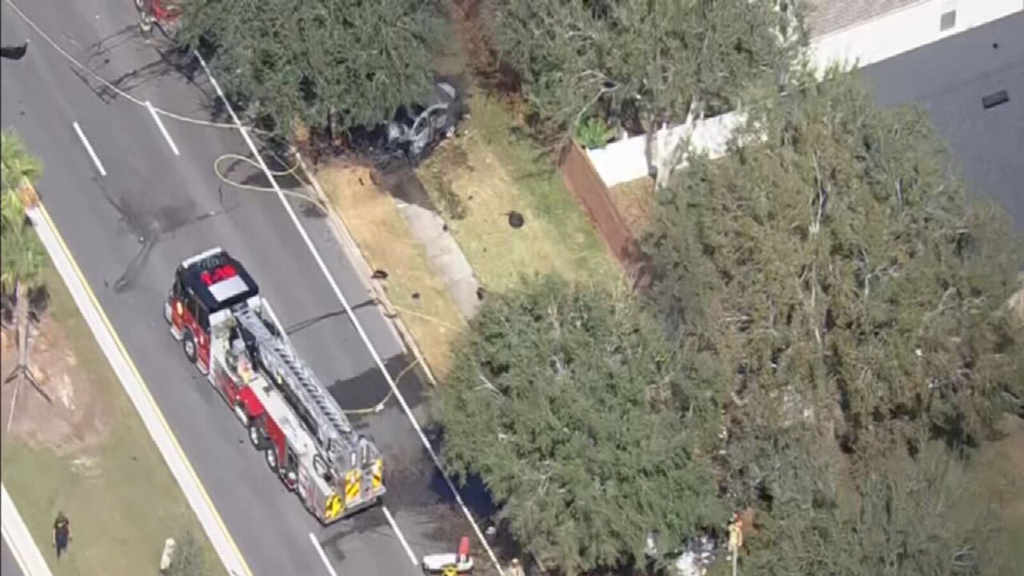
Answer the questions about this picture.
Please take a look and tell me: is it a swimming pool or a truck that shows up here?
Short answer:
truck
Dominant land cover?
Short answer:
trees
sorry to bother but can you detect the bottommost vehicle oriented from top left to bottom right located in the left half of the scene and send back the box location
[165,236,382,526]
